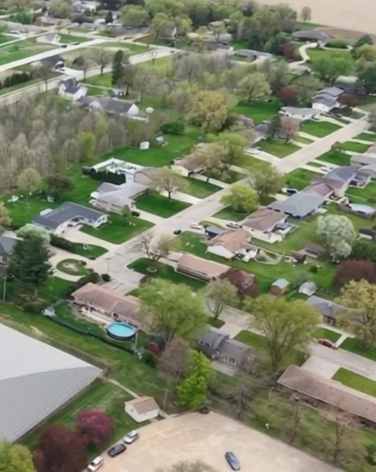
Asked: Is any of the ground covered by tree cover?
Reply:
Yes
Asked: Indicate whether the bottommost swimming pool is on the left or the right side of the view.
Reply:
left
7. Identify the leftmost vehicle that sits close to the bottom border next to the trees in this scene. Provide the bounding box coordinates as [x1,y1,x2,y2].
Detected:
[86,453,104,469]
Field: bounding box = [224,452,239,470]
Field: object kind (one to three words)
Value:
car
